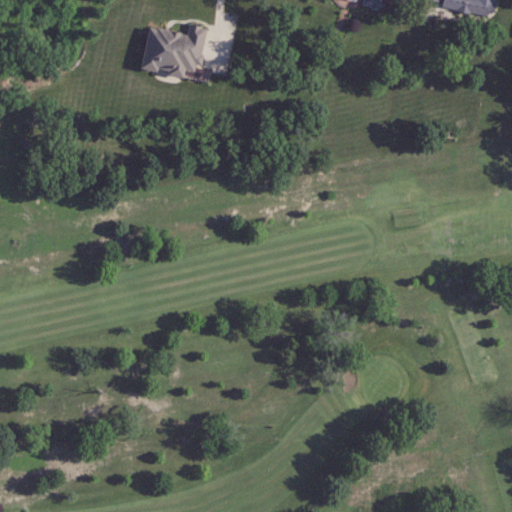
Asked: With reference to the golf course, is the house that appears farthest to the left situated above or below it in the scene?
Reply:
above it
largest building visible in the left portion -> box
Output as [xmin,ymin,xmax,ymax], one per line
[141,22,211,78]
